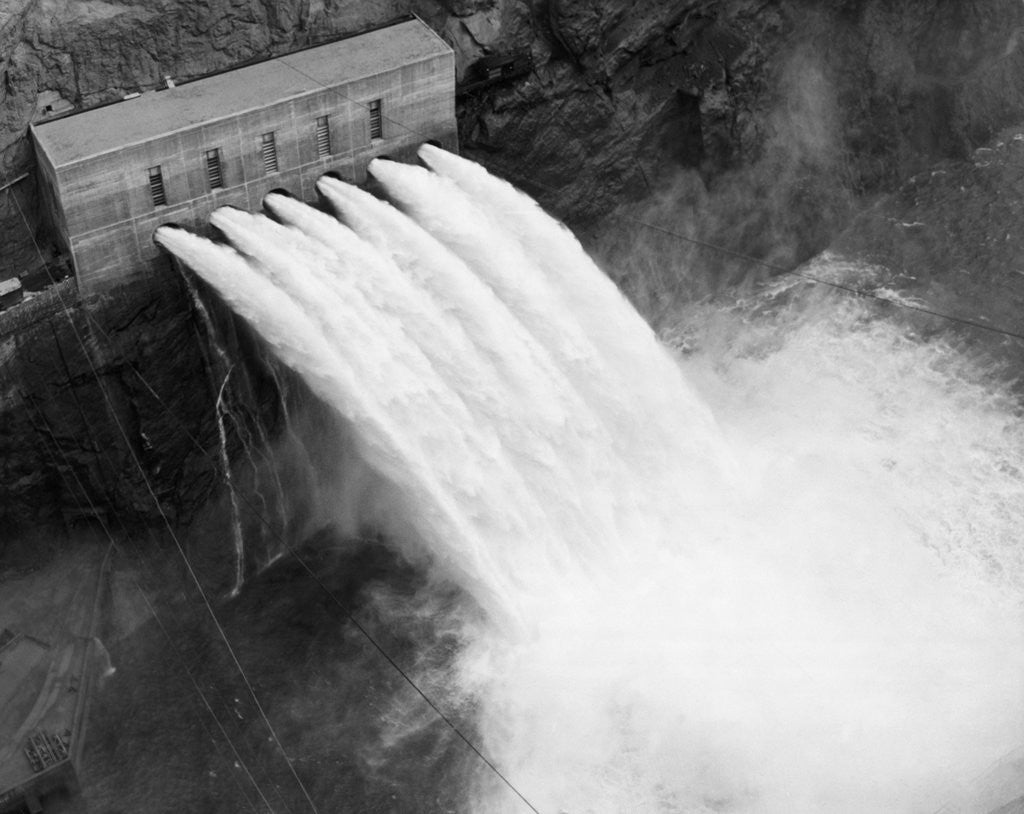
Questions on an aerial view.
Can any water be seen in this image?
Yes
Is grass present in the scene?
No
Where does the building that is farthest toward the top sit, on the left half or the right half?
left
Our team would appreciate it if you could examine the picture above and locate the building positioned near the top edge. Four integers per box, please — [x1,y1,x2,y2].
[26,15,456,293]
